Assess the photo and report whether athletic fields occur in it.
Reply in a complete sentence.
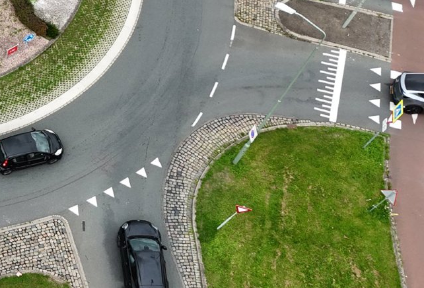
No, there is no athletic field in the image.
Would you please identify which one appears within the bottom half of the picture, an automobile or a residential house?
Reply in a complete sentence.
It is an automobile that can be seen within the bottom half of the picture.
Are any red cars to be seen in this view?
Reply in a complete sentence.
No, the picture doesn't show any red car.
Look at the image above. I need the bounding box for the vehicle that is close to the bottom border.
[117,219,171,288]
